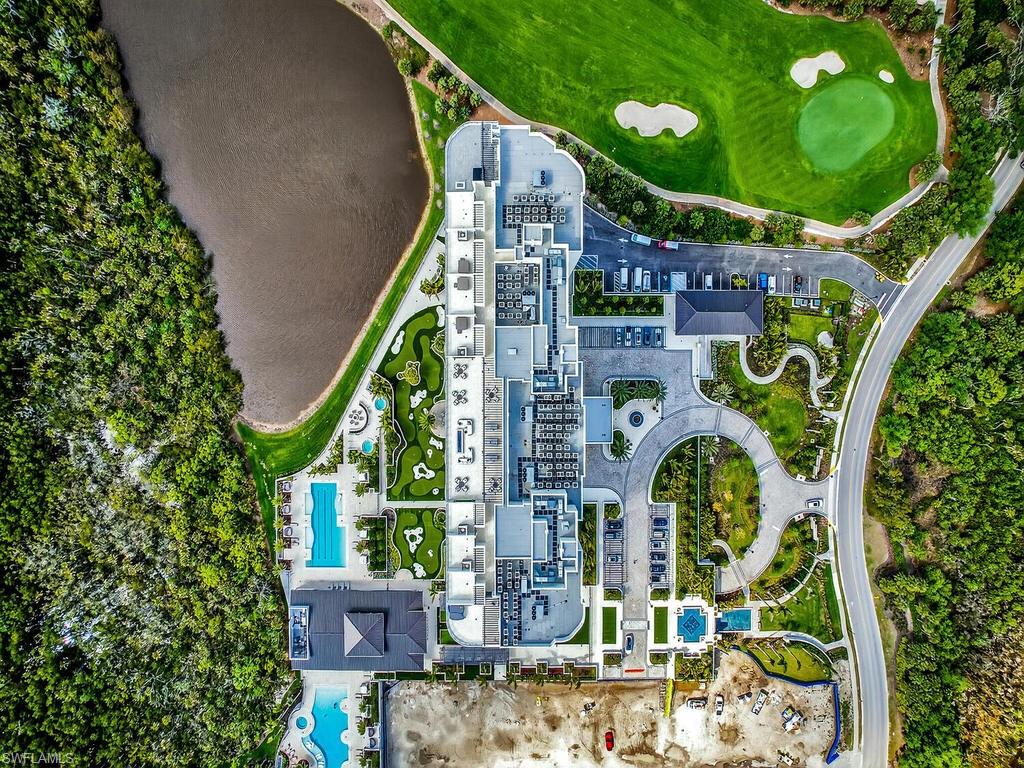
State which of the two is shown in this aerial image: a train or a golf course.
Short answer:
golf course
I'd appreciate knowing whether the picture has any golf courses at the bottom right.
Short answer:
No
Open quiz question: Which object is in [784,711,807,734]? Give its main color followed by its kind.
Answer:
white truck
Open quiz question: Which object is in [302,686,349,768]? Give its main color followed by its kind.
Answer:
blue swimming pool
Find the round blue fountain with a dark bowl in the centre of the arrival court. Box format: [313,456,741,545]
[628,410,645,428]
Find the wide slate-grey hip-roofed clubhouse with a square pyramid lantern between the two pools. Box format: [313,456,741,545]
[290,589,426,671]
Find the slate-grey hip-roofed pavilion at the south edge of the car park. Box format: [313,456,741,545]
[675,290,764,336]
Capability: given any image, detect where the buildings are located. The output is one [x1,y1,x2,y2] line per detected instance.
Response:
[443,117,613,647]
[290,589,426,671]
[675,290,764,336]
